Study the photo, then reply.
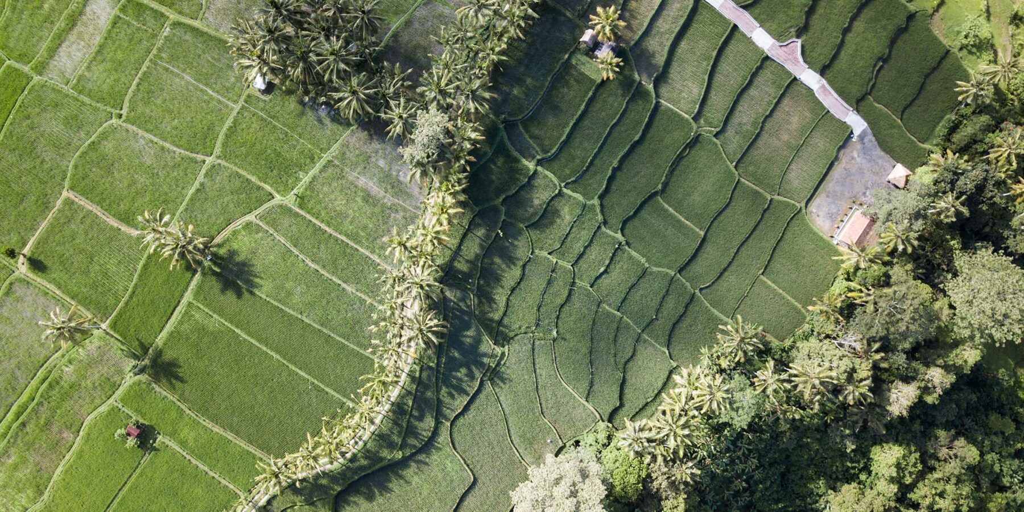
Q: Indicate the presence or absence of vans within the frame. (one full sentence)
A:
No, the photo shows no van.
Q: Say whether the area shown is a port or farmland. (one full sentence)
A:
This looks like farmland.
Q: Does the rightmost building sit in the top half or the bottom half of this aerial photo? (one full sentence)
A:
The top half of the photo is where the rightmost building is.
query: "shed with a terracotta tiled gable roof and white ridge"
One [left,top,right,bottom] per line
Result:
[835,210,874,252]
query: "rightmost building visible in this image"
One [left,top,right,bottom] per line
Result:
[882,161,911,189]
